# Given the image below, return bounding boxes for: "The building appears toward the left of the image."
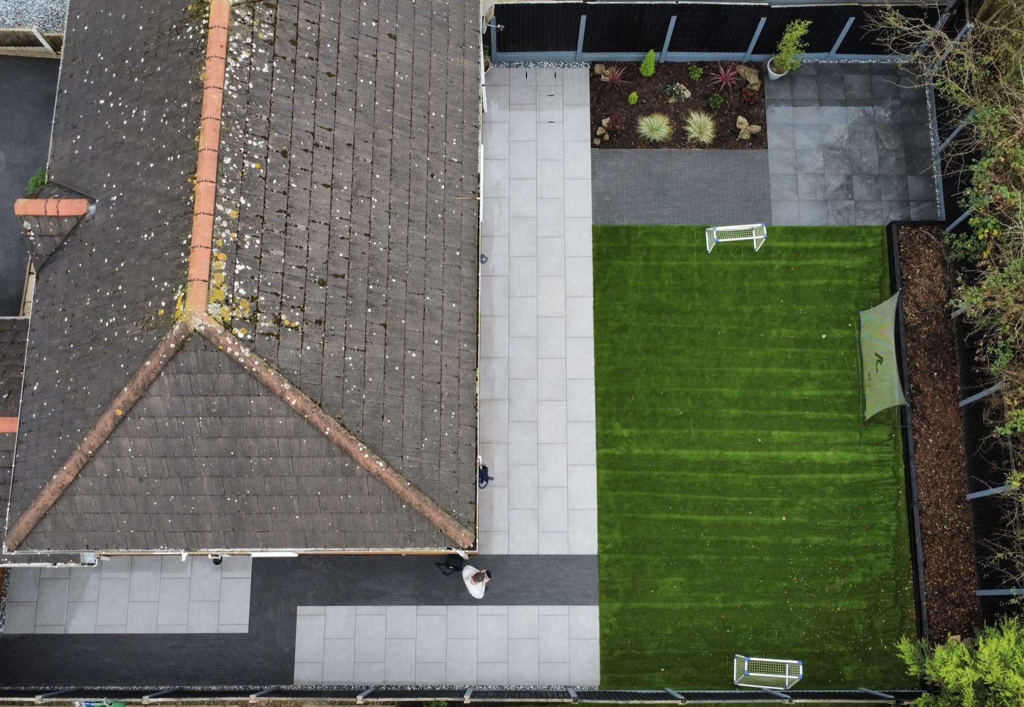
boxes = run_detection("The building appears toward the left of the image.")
[0,0,489,565]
